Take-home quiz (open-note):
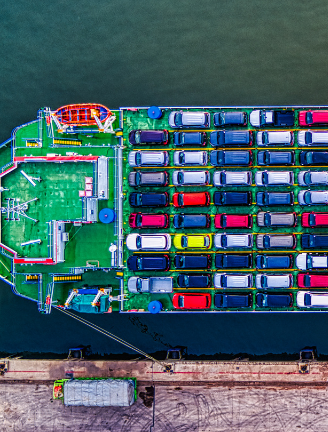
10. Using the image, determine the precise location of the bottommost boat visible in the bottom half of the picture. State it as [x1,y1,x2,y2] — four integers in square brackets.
[64,293,116,312]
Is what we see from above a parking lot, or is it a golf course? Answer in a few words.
parking lot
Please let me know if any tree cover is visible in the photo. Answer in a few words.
No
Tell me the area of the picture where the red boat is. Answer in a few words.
top left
